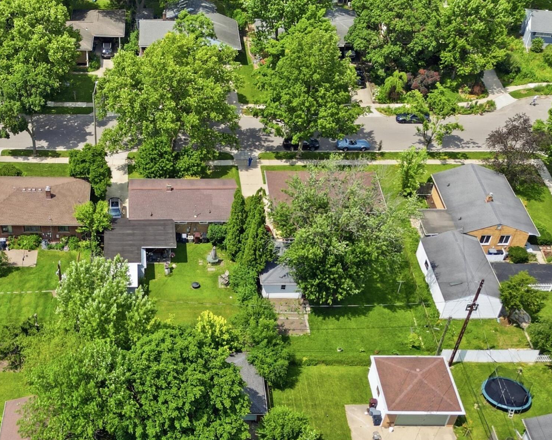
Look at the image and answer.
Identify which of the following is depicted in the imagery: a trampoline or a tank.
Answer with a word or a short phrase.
trampoline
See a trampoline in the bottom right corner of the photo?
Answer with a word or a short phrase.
Yes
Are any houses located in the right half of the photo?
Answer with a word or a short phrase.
Yes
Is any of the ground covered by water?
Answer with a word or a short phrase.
No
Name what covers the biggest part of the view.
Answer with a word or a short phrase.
trees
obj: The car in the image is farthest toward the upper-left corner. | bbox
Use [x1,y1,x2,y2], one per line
[99,38,115,60]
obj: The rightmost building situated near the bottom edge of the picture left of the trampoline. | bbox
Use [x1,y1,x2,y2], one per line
[367,353,468,430]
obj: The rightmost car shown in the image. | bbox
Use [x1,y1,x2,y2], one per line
[390,110,424,126]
